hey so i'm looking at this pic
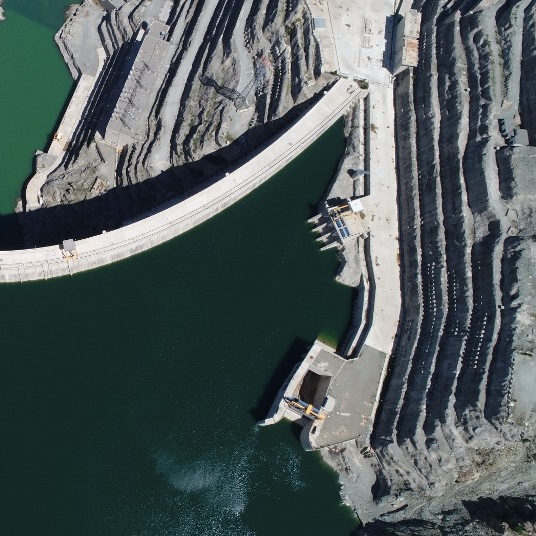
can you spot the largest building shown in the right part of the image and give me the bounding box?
[392,8,422,74]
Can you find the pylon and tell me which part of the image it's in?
top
